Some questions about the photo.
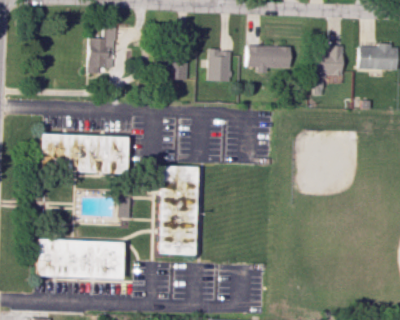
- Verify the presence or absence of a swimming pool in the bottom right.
No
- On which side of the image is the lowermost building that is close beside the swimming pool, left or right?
left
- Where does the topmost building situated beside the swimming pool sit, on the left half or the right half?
left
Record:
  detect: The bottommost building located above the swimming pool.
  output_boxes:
[40,134,130,174]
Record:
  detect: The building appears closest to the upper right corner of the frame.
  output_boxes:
[358,44,400,70]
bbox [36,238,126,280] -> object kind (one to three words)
building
